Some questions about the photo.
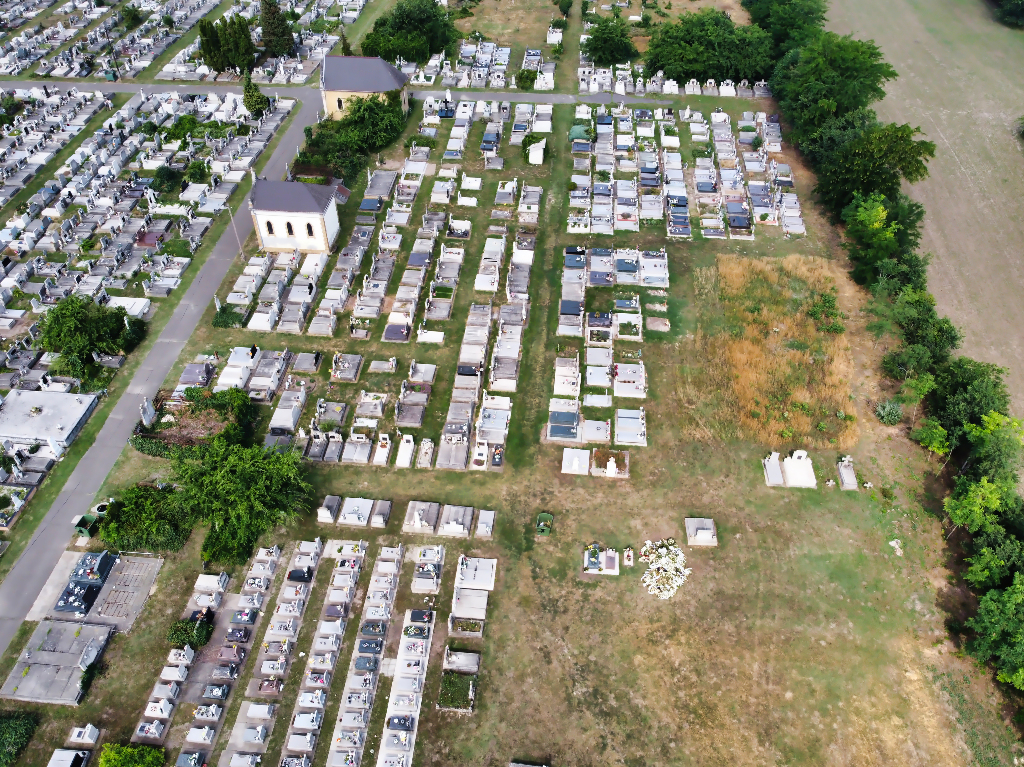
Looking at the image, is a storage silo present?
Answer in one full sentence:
No, the picture doesn't show any storage silo.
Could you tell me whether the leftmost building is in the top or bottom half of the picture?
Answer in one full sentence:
You can find the leftmost building in the top half.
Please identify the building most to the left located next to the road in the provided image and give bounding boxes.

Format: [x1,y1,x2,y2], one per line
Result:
[245,159,343,254]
